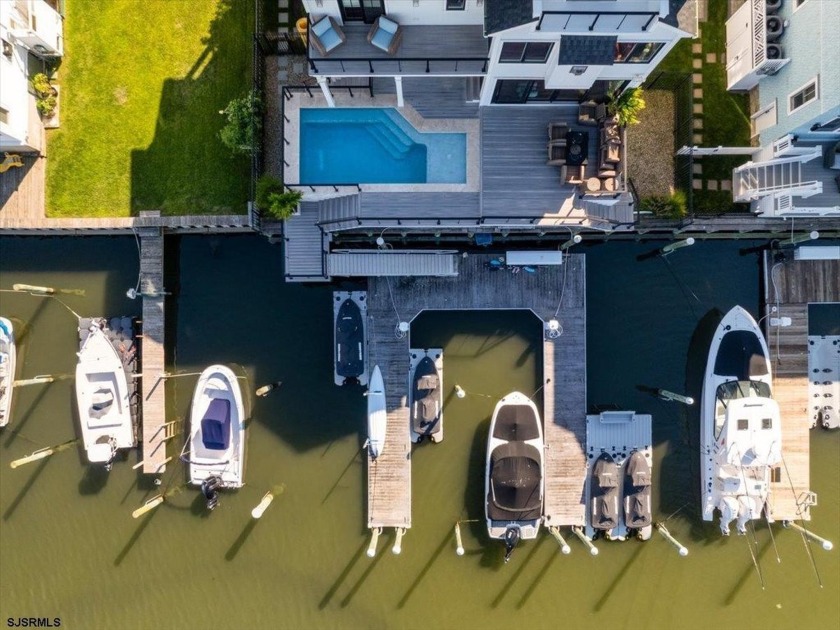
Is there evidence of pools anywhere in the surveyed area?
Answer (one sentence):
Yes, this view includes a pool.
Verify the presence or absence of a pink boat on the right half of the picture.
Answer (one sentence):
No, on the right half of the picture there is no pink boat.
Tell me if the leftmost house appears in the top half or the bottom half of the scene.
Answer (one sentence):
The top half of the photo is where the leftmost house is.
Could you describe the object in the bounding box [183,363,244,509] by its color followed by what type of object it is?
white boat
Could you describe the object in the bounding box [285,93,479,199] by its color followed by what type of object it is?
blue swimming pool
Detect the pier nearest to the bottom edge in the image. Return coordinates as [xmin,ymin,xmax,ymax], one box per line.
[585,415,651,539]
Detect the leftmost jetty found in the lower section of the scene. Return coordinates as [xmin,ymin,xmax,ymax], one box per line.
[78,317,143,452]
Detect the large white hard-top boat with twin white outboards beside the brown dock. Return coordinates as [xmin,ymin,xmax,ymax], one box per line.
[692,305,817,590]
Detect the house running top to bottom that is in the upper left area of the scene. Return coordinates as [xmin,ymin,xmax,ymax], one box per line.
[0,0,63,155]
